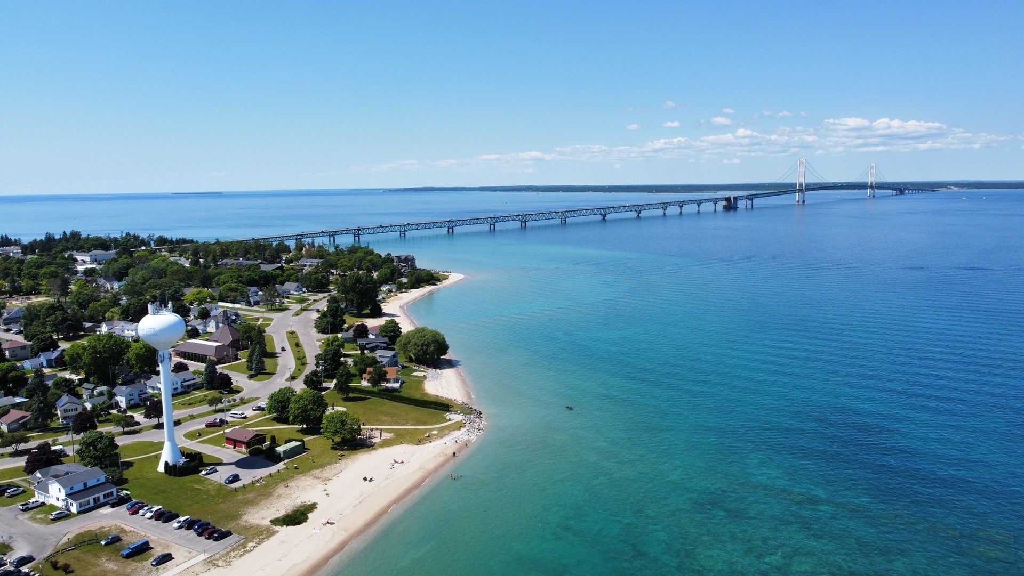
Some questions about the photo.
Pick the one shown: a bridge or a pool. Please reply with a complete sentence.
This aerial view contains a bridge.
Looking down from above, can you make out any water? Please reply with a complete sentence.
Yes, there is water in the image.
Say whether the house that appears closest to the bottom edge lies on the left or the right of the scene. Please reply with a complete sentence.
It is on the left.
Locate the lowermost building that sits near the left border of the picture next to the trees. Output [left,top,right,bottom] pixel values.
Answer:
[33,459,136,514]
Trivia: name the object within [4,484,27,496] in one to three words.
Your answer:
vehicle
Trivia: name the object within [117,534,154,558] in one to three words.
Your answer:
truck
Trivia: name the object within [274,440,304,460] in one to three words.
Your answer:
shed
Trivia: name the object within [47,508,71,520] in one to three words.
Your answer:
vehicle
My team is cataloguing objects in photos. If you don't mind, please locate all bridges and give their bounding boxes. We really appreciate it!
[129,158,950,251]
